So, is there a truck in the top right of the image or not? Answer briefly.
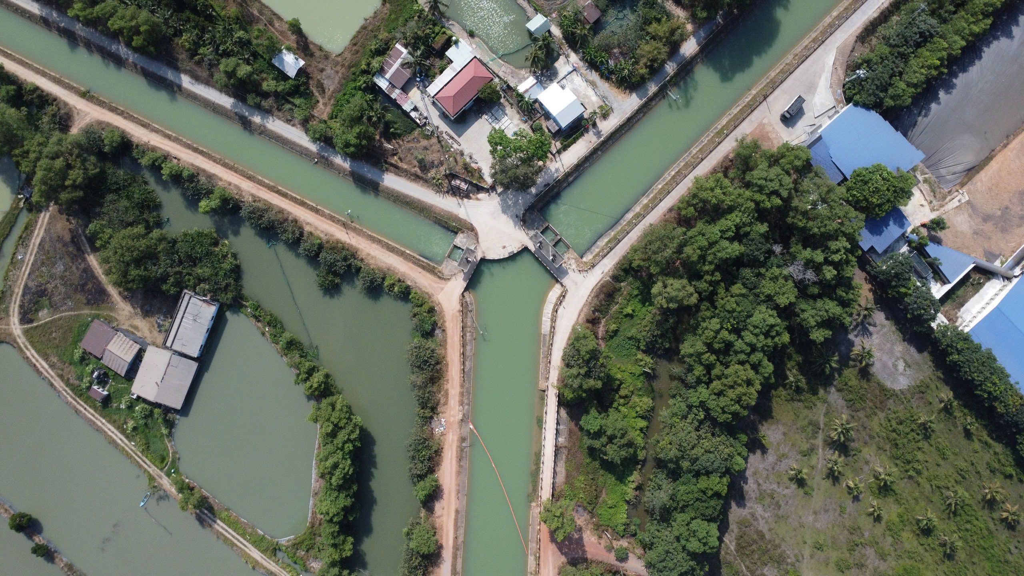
Yes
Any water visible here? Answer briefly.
Yes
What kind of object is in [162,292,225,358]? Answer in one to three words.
building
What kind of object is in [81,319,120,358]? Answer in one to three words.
shed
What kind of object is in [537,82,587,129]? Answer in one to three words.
house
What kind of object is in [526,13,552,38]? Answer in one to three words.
shed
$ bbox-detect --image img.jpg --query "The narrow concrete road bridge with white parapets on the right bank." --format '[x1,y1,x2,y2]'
[538,389,559,506]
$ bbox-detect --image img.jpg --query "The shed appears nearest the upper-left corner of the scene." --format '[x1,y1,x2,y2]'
[272,49,307,81]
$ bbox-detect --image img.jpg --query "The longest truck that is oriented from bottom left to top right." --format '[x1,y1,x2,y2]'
[779,90,811,122]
